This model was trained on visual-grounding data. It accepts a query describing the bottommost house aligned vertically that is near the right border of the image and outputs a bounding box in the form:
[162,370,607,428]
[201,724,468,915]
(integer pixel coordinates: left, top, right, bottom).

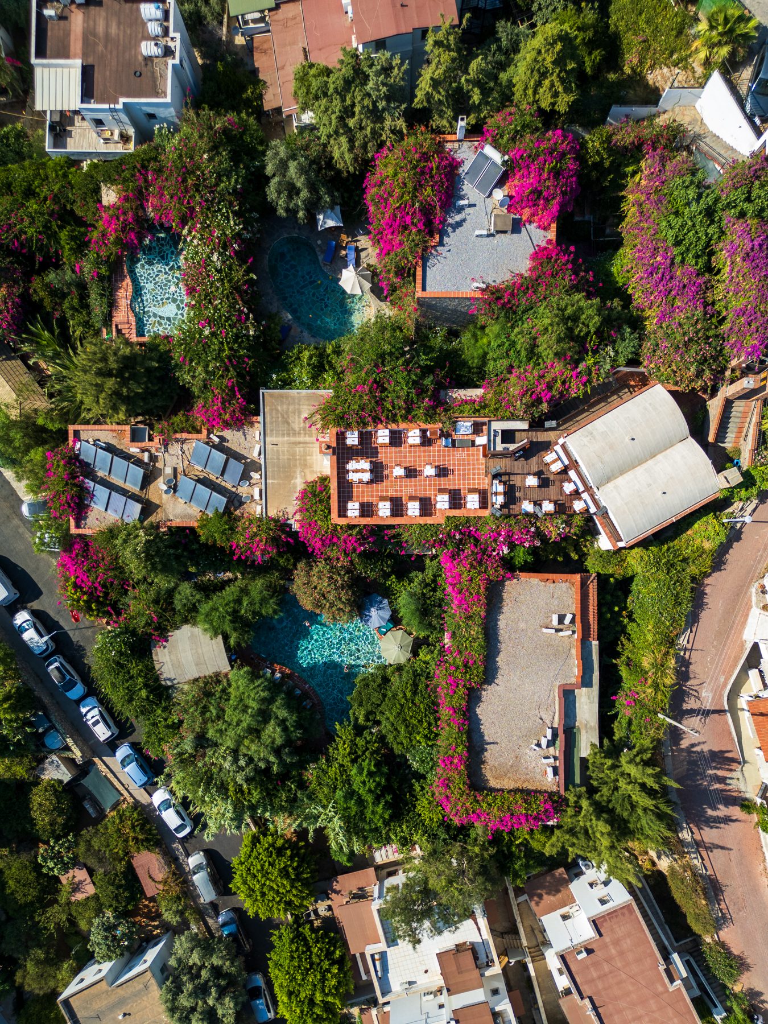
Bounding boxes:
[728,682,768,765]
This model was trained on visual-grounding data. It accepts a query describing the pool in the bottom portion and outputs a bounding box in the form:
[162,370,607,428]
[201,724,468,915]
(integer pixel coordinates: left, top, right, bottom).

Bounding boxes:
[243,592,411,741]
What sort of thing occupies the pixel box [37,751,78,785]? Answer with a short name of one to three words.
shed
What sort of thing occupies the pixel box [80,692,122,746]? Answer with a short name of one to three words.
car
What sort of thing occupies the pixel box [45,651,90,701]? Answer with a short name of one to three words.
car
